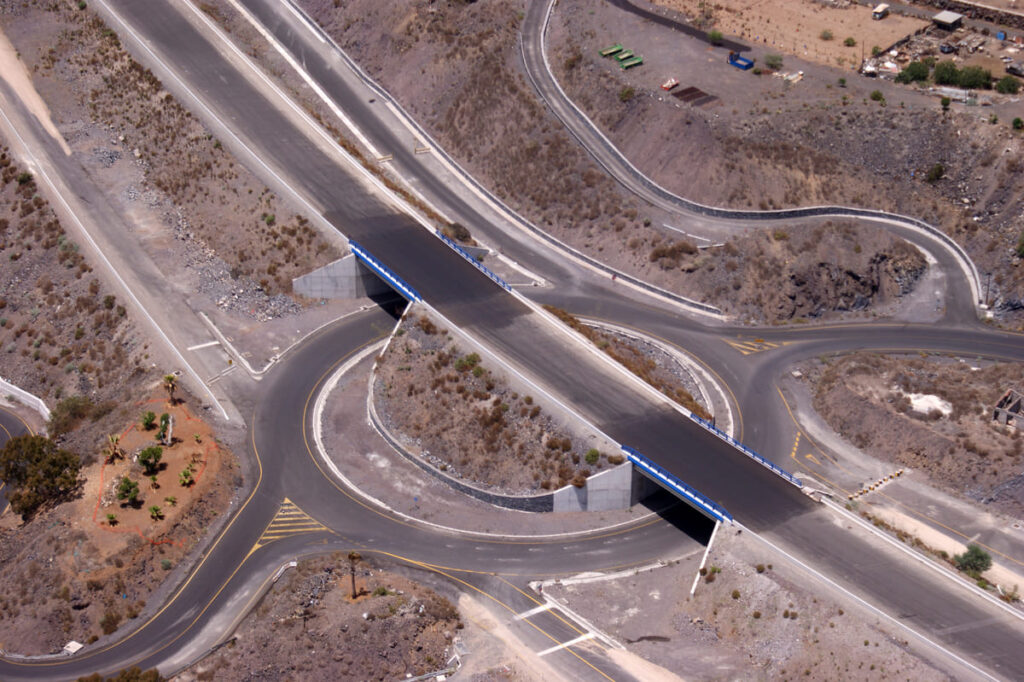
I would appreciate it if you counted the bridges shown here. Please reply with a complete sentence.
In total, there are 2 bridges in the scene.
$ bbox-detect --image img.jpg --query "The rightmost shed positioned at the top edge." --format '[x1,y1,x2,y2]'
[933,13,965,35]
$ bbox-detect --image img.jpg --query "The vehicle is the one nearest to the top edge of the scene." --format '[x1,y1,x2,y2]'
[870,5,888,20]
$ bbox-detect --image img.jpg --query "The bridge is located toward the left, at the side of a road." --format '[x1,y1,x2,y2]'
[293,224,519,399]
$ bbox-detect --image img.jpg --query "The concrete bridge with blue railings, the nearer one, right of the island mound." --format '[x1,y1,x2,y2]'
[552,408,804,600]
